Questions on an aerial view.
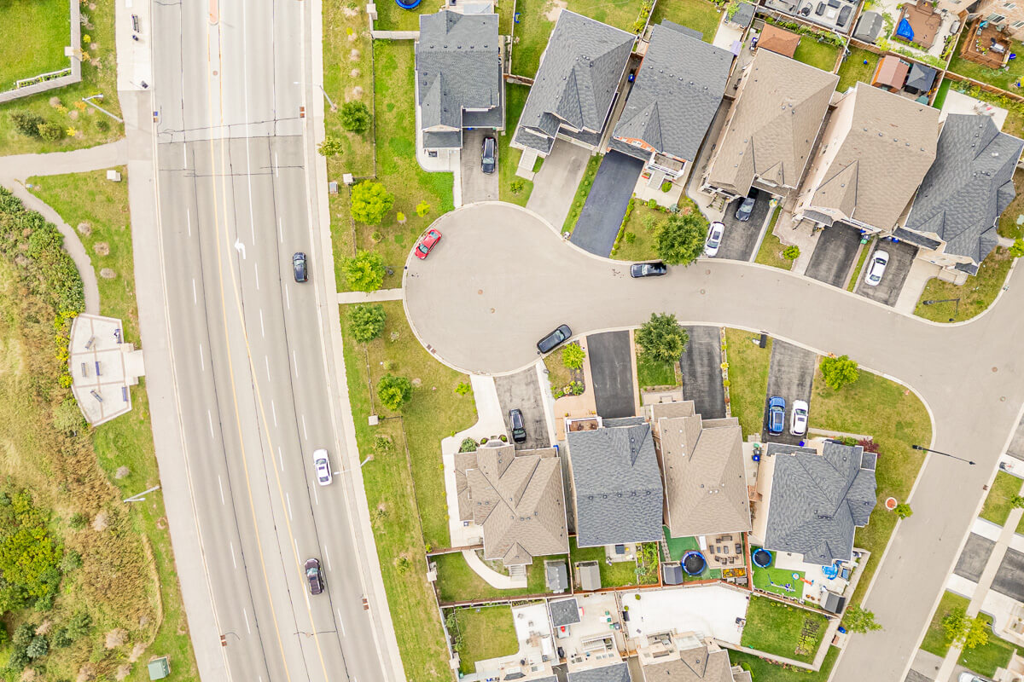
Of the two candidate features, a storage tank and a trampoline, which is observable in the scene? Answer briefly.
trampoline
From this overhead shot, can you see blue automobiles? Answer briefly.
Yes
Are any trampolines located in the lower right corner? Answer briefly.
Yes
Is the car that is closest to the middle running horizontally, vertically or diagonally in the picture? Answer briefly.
diagonally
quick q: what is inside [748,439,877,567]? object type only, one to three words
house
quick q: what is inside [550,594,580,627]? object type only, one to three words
building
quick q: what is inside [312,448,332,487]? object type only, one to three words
car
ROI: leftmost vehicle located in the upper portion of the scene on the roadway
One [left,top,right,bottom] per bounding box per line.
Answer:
[290,250,309,284]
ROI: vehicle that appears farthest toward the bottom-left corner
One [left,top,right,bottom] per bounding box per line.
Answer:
[304,557,325,596]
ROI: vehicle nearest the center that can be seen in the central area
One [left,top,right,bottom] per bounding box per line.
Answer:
[536,323,573,355]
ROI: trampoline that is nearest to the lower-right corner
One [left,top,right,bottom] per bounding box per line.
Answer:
[751,548,775,570]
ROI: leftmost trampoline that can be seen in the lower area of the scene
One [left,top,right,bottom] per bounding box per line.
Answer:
[682,551,708,577]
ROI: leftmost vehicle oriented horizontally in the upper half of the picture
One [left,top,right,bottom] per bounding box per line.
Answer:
[630,261,667,278]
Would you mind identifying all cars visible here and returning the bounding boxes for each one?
[509,407,527,443]
[704,220,725,257]
[290,250,309,284]
[415,228,442,260]
[630,261,667,278]
[736,190,759,222]
[304,557,325,596]
[957,669,993,682]
[766,396,786,434]
[480,136,497,173]
[536,323,573,355]
[864,248,888,286]
[789,399,809,436]
[312,448,332,487]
